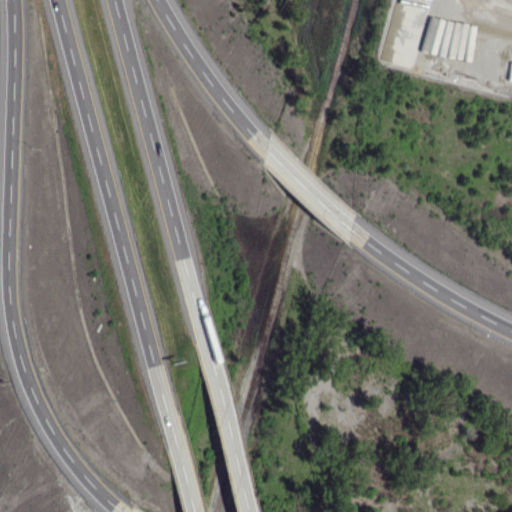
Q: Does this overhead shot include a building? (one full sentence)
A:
No, the picture doesn't show any building.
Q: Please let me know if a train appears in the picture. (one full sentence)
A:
No, the picture doesn't show any train.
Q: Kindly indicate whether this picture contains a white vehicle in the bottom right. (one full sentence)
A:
No, I see no white vehicle in the bottom right.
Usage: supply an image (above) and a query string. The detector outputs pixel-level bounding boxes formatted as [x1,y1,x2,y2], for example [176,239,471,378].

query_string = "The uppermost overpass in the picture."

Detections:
[258,138,364,240]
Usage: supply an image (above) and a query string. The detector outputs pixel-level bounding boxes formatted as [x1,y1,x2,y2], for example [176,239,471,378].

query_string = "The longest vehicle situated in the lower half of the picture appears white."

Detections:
[198,298,224,363]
